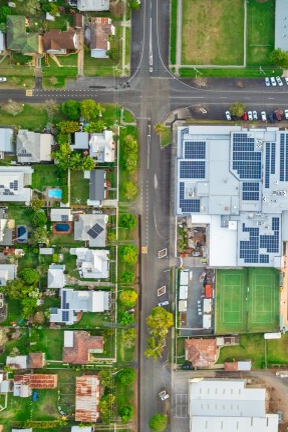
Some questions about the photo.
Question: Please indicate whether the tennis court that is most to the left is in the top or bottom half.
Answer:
bottom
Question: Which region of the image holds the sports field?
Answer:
top right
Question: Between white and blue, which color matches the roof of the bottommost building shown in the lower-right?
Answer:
white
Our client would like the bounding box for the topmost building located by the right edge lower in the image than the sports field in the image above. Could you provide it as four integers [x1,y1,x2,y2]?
[176,125,288,267]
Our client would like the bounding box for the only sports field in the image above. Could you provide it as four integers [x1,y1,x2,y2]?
[182,0,243,63]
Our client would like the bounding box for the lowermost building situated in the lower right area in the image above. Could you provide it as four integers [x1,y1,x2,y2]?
[187,376,288,432]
